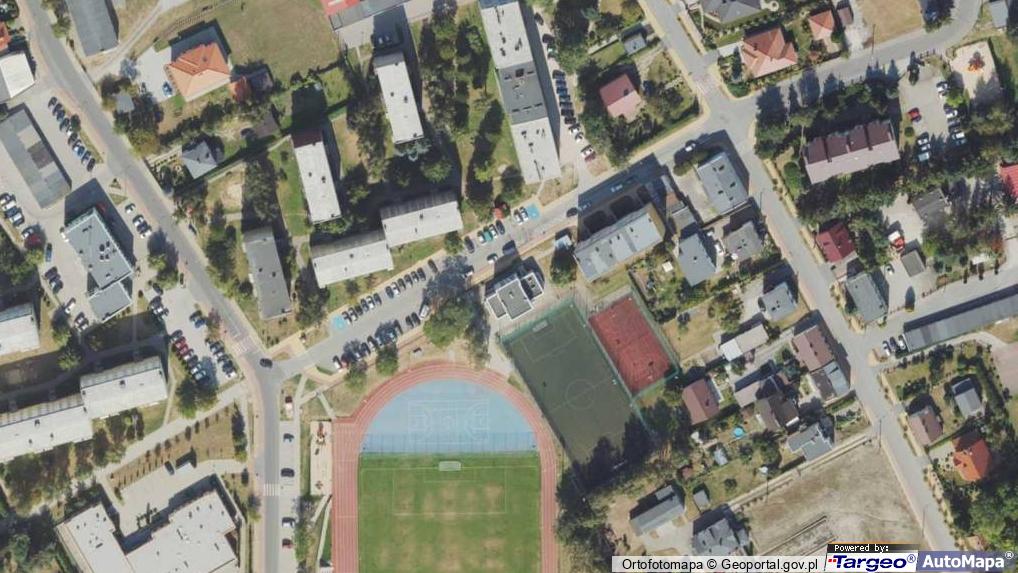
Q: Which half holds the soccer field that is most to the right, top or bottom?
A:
bottom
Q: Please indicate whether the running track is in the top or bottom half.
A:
bottom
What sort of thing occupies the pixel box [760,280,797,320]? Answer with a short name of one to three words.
house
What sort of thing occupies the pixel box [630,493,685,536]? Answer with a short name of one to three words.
barn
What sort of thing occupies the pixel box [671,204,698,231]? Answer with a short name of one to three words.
shed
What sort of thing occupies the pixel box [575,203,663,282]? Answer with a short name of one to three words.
building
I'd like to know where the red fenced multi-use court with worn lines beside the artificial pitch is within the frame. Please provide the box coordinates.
[590,298,671,394]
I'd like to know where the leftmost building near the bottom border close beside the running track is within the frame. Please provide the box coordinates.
[56,487,249,573]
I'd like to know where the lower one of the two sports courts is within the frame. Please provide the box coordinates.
[359,378,539,452]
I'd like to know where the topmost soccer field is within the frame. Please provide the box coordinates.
[505,305,644,476]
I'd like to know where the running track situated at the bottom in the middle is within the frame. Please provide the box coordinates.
[332,360,559,573]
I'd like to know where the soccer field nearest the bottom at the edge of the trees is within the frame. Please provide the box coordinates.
[358,453,541,573]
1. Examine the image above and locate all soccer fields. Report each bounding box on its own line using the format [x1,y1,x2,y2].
[358,453,541,573]
[505,305,644,476]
